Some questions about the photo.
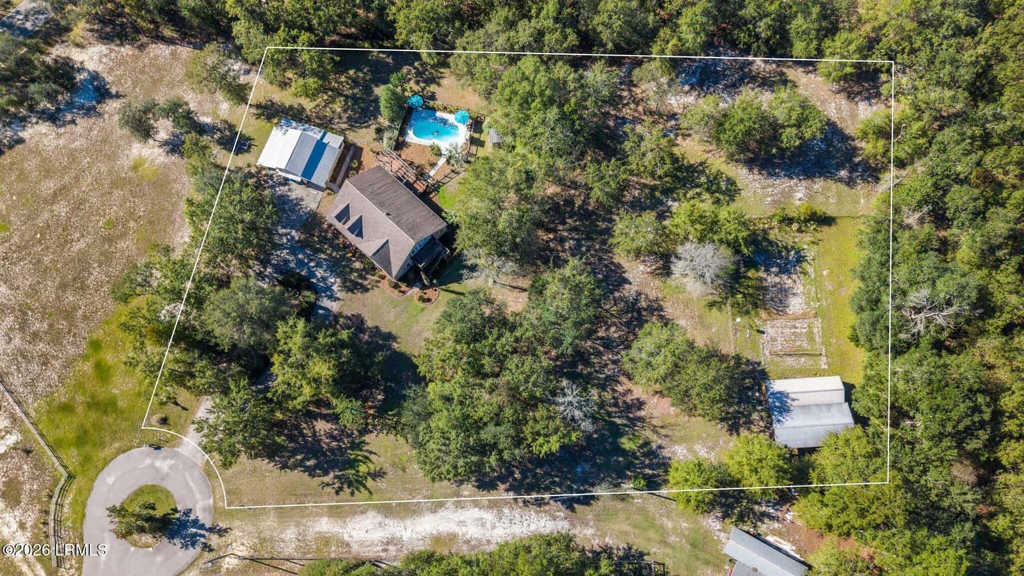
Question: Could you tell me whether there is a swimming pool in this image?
Yes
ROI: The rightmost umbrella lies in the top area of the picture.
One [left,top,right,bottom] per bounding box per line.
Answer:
[455,111,470,125]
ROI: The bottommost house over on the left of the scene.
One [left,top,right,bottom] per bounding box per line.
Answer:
[325,159,456,279]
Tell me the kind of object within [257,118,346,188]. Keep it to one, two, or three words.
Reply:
building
